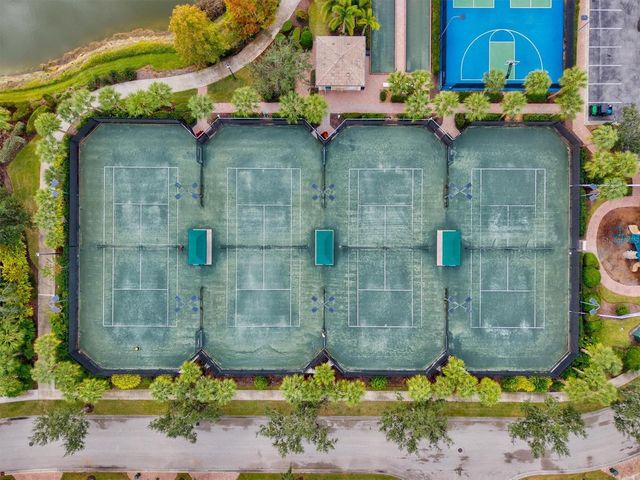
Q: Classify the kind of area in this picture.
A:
sports ground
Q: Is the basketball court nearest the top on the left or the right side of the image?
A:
right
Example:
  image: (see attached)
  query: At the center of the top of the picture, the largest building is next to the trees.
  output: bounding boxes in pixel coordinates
[315,36,366,89]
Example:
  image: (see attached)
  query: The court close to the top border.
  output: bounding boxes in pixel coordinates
[446,0,562,85]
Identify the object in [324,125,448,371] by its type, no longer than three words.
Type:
tennis court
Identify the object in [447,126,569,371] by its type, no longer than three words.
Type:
tennis court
